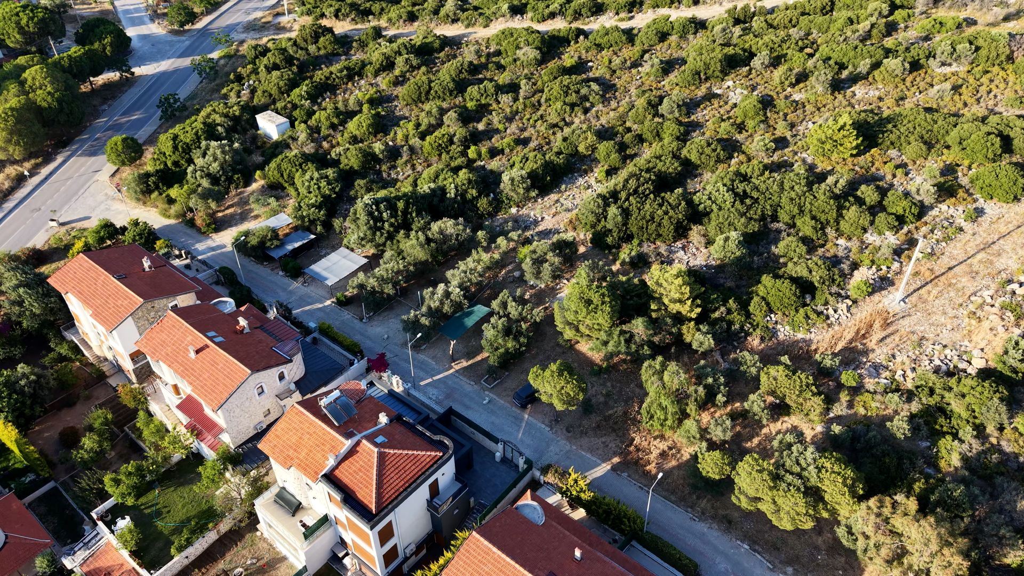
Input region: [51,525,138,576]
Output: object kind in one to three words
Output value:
shed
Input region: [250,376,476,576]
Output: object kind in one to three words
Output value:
house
